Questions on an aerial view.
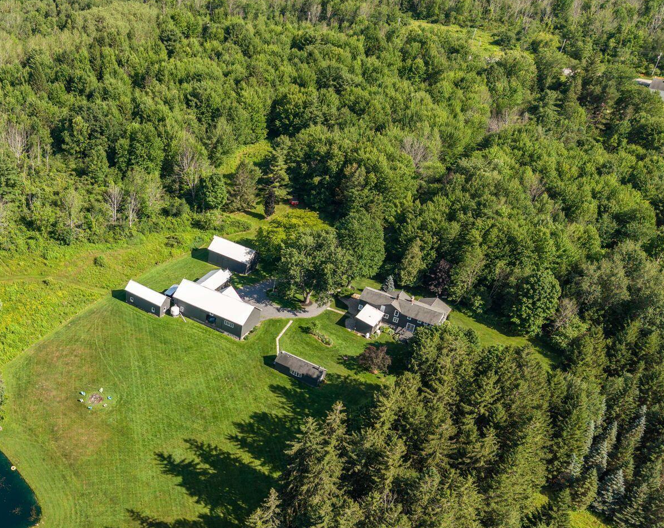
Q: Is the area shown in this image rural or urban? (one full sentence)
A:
From above, the setting appears rural.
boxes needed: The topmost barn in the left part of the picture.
[206,233,266,275]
